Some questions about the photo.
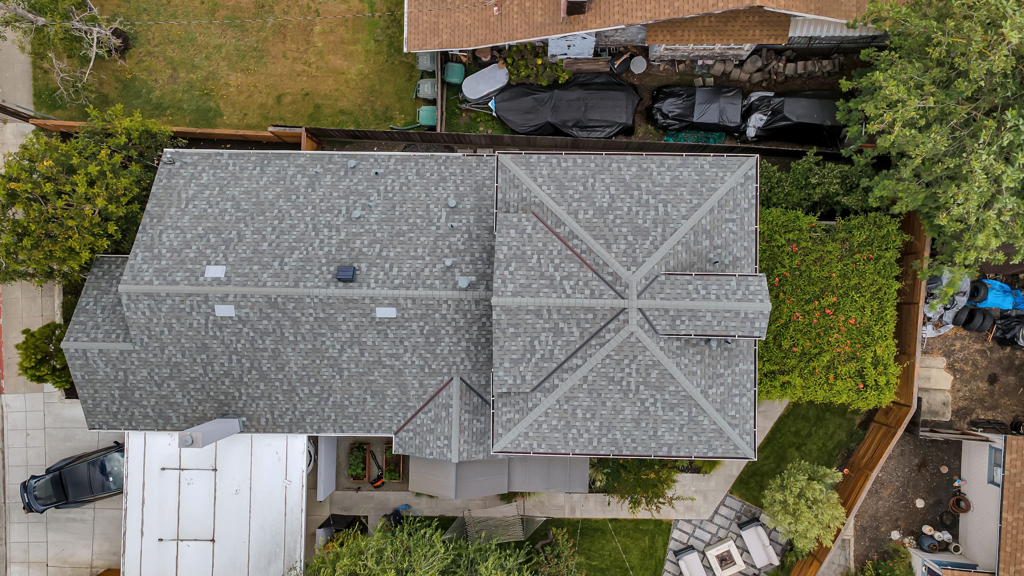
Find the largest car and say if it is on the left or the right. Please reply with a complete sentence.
The largest car is on the left side of the image.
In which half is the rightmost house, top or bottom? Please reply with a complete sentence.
The rightmost house sits in the bottom half of the picture.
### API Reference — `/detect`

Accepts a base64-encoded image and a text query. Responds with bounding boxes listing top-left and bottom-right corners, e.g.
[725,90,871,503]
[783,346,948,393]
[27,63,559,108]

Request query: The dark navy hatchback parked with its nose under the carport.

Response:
[17,438,125,515]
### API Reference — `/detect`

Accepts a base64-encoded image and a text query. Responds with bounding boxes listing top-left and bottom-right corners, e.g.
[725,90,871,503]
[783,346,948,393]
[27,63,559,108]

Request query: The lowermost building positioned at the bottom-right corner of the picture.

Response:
[909,435,1024,576]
